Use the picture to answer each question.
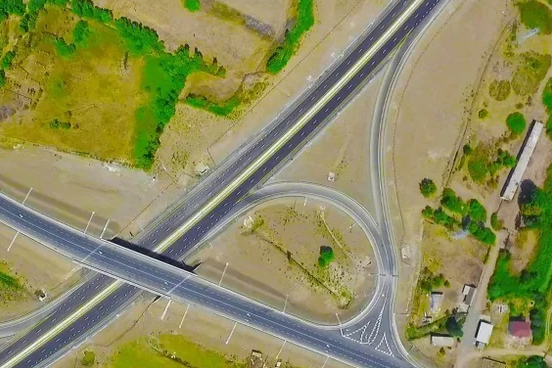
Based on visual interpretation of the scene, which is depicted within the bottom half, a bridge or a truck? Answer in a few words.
bridge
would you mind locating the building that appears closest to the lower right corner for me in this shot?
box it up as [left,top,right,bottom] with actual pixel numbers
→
[506,321,532,337]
